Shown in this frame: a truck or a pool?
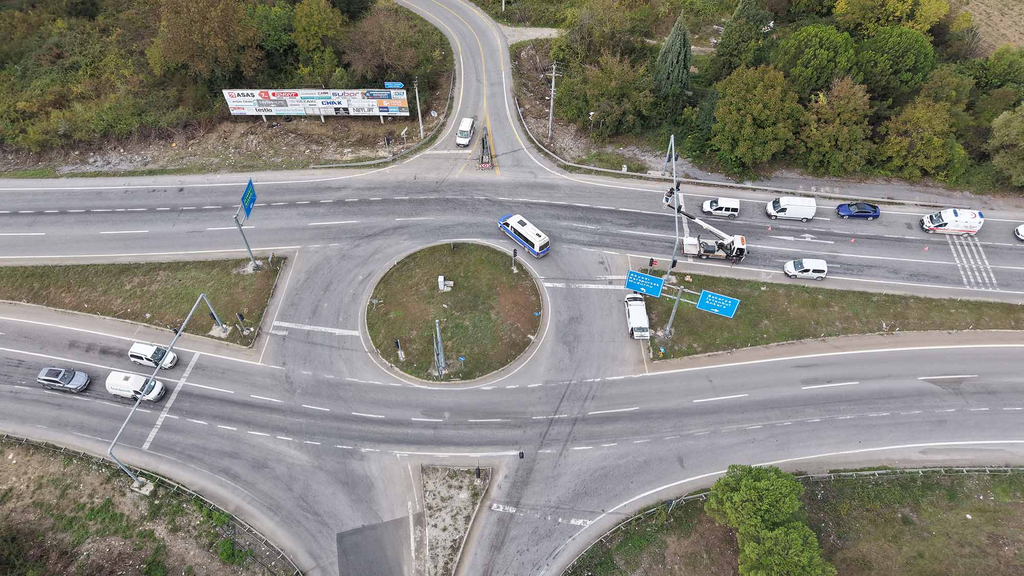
truck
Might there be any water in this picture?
No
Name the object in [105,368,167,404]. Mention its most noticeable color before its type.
white van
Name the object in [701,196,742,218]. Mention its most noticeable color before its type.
white vehicle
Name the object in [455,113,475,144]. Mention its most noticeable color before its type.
white vehicle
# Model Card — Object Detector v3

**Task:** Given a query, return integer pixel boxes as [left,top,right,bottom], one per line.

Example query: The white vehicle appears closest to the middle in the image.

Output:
[498,212,550,258]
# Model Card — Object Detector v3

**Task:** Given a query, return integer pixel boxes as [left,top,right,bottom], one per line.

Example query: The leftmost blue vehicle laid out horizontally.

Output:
[834,201,882,221]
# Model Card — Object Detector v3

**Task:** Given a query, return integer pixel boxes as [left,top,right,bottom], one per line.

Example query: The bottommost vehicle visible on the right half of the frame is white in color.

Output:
[625,295,649,340]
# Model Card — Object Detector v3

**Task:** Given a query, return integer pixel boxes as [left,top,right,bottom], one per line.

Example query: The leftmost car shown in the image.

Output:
[37,363,93,392]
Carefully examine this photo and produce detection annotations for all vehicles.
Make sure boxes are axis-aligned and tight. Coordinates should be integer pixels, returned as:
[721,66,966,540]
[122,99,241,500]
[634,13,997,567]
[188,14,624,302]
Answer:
[834,201,882,221]
[660,188,746,268]
[701,196,742,218]
[37,363,93,392]
[625,295,649,340]
[127,340,178,371]
[763,196,817,222]
[455,113,475,144]
[498,212,550,258]
[105,368,167,404]
[919,208,984,238]
[783,257,830,281]
[1010,225,1024,243]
